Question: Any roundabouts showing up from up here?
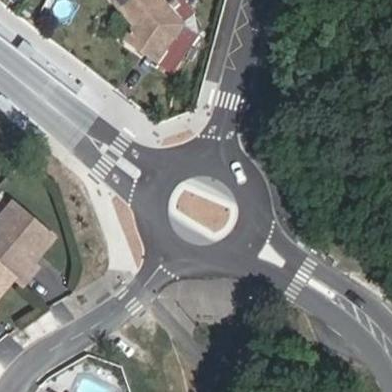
Yes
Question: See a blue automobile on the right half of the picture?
No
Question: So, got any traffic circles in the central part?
Yes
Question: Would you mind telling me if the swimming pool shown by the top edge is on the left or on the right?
left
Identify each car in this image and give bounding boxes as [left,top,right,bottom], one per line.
[346,288,366,306]
[126,68,140,89]
[30,280,50,298]
[232,162,245,184]
[116,340,136,358]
